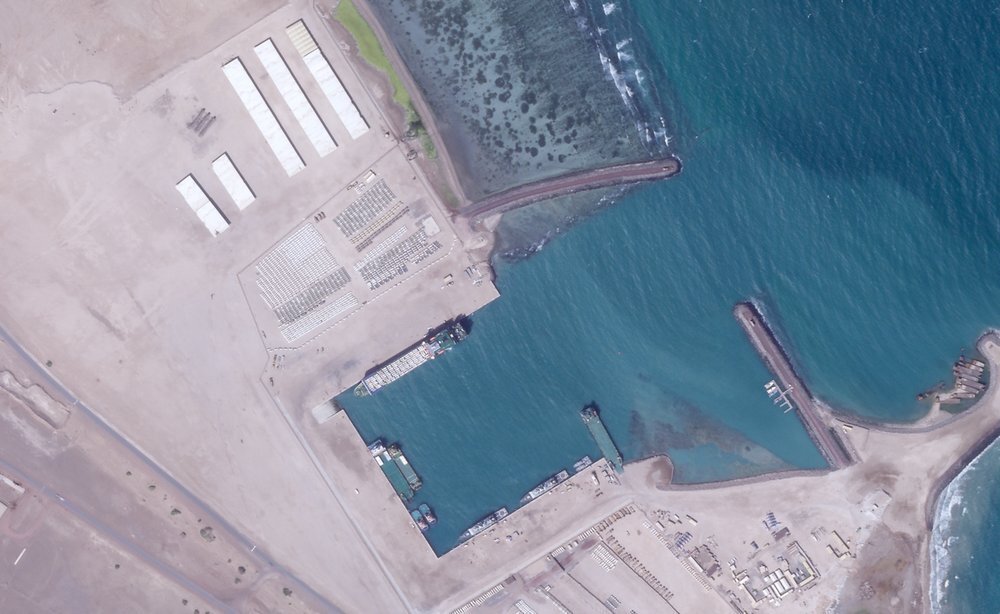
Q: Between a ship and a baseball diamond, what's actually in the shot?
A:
ship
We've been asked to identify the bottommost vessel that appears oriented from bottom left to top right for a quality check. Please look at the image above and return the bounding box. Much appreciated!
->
[458,508,509,541]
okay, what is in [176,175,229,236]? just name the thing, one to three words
building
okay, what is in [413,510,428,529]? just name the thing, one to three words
boat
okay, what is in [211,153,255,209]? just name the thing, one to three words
building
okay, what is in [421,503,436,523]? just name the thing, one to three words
boat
